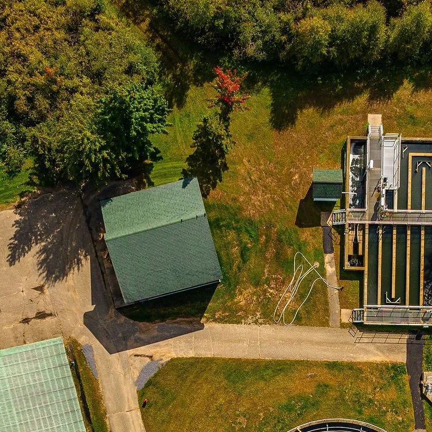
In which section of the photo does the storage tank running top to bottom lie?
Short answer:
right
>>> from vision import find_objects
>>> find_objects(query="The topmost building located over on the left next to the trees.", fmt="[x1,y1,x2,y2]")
[100,177,222,304]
